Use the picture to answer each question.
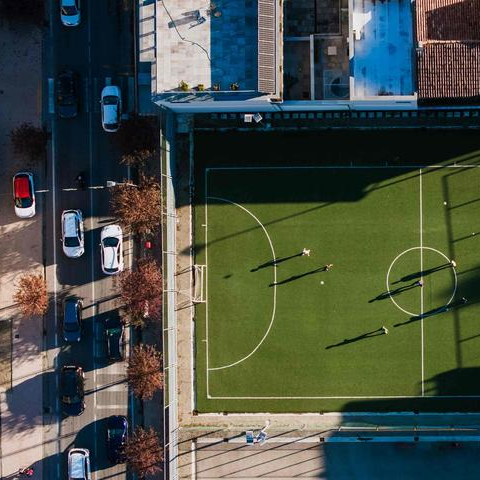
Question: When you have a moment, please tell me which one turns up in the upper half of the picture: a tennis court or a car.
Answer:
car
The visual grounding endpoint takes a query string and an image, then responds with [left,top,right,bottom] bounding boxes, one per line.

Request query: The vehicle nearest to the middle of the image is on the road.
[98,223,124,276]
